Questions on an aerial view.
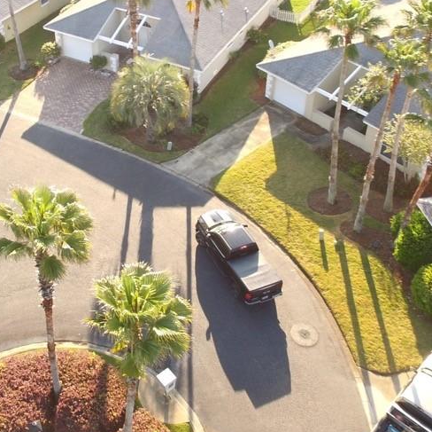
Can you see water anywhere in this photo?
No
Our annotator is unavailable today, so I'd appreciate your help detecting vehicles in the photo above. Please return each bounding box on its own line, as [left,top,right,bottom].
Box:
[195,214,285,311]
[367,361,432,432]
